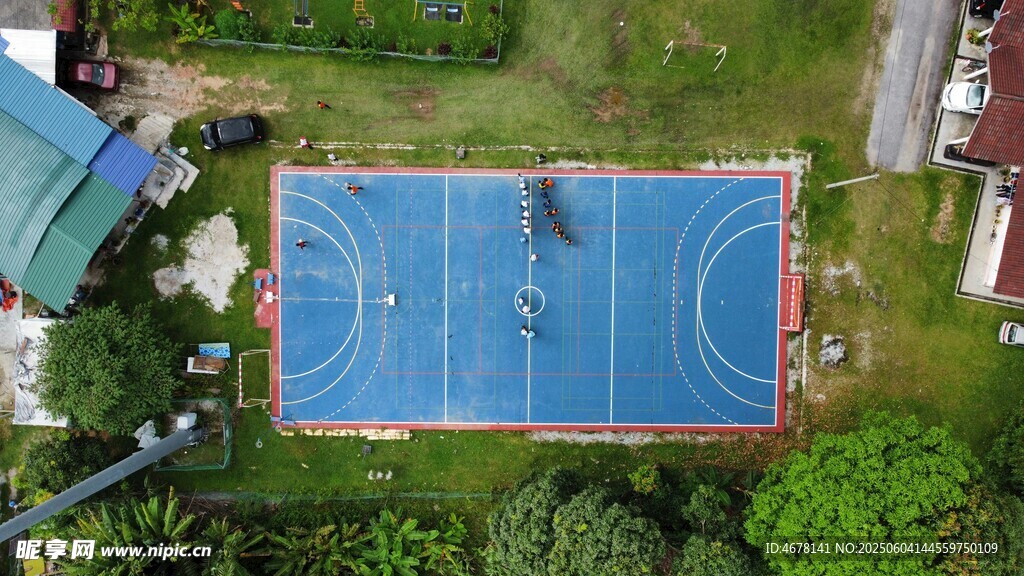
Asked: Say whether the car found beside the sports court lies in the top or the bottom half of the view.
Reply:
top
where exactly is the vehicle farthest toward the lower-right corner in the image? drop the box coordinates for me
[990,318,1024,349]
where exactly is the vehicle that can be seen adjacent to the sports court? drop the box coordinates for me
[197,114,267,152]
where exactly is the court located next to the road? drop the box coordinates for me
[255,166,805,432]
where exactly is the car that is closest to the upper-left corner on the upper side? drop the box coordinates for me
[58,56,124,92]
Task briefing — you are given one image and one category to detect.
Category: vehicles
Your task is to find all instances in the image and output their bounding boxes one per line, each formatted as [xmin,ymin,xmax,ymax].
[197,114,267,152]
[990,318,1024,349]
[67,281,89,304]
[58,56,124,92]
[971,0,1004,26]
[939,79,991,115]
[939,135,1006,178]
